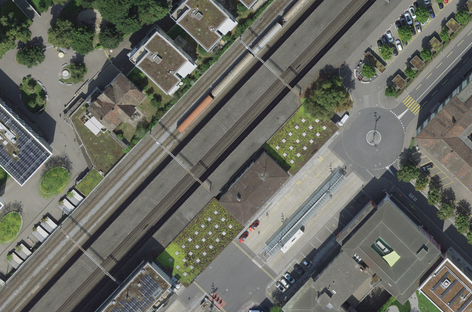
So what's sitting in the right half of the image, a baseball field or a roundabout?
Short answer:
roundabout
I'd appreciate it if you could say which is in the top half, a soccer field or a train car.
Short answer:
train car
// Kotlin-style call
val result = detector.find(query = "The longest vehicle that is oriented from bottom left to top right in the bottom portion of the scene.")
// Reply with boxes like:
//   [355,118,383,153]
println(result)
[282,228,304,252]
